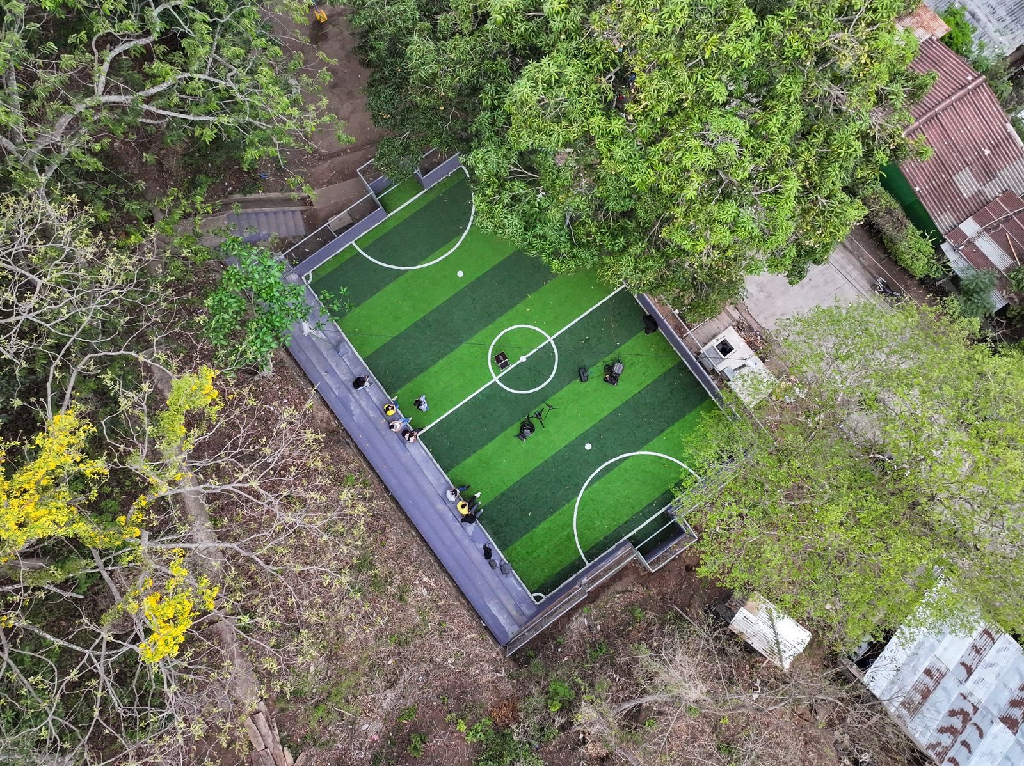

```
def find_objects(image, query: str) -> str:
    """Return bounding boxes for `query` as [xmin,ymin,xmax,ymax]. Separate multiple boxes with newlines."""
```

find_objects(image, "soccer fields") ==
[302,133,749,606]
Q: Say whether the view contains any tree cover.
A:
Yes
